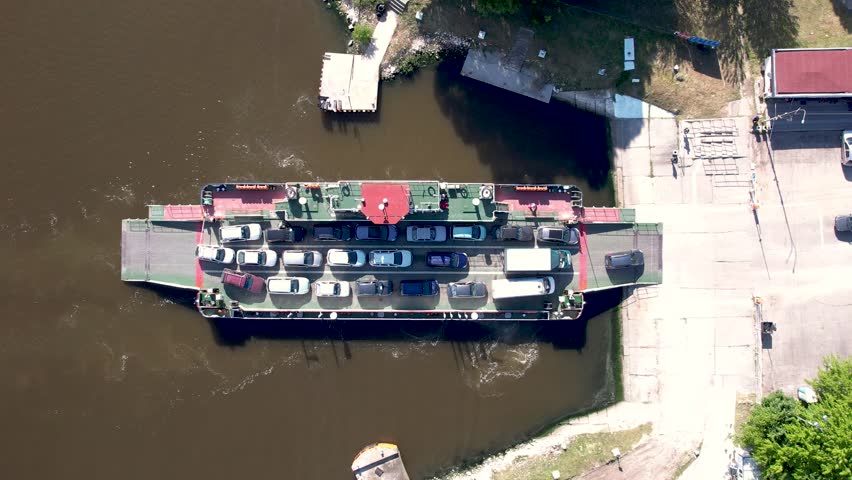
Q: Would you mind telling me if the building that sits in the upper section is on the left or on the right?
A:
right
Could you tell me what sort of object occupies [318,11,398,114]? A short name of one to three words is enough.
pier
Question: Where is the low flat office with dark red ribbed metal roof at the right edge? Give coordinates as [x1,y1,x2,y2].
[757,47,852,101]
